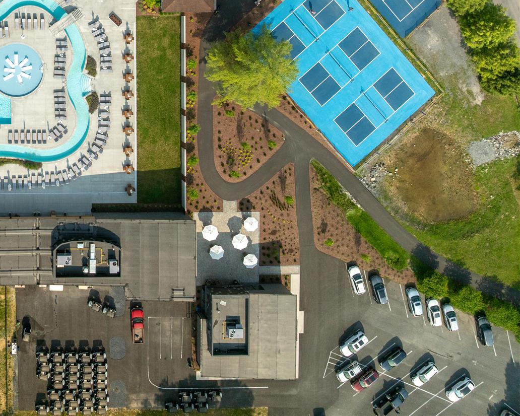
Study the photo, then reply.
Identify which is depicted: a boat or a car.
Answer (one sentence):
This aerial view contains a car.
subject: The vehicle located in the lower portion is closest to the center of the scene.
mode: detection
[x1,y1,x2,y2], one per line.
[346,264,366,295]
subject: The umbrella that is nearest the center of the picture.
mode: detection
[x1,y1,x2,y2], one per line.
[243,217,257,231]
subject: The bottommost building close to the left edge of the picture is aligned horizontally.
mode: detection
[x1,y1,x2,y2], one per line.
[0,213,197,302]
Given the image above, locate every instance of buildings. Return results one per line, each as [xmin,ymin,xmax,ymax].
[0,213,197,302]
[161,0,213,12]
[197,280,297,381]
